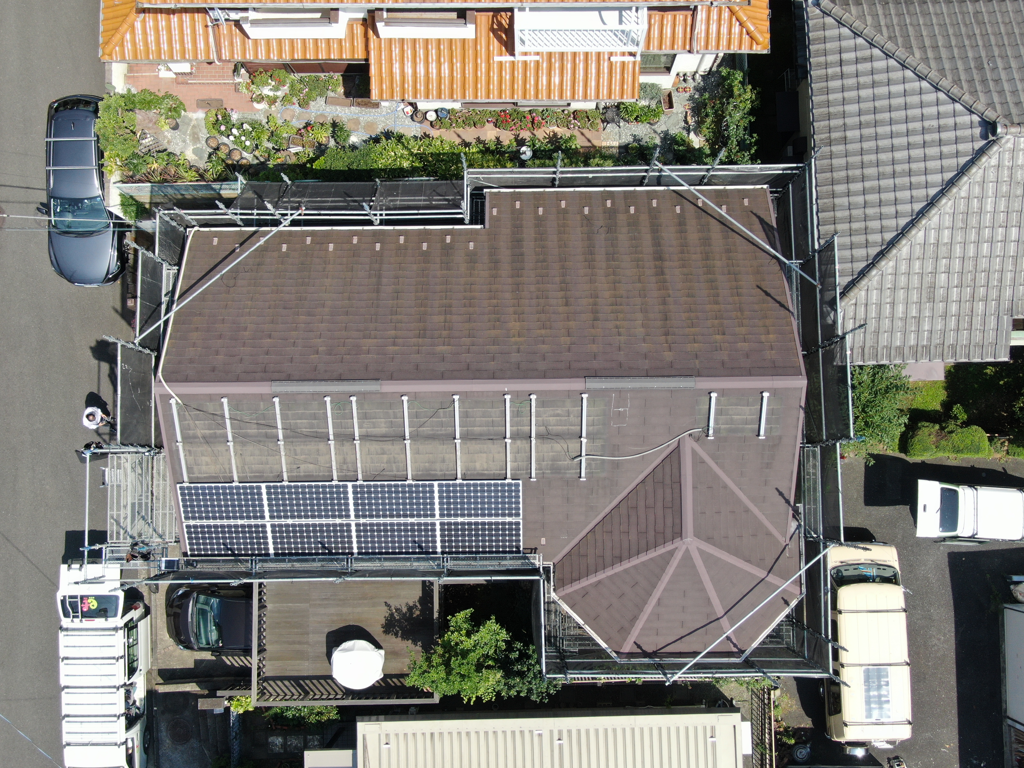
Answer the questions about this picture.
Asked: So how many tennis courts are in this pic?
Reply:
0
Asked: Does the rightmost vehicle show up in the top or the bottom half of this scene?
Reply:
bottom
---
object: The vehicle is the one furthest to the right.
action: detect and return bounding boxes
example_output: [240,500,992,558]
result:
[919,480,1024,552]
